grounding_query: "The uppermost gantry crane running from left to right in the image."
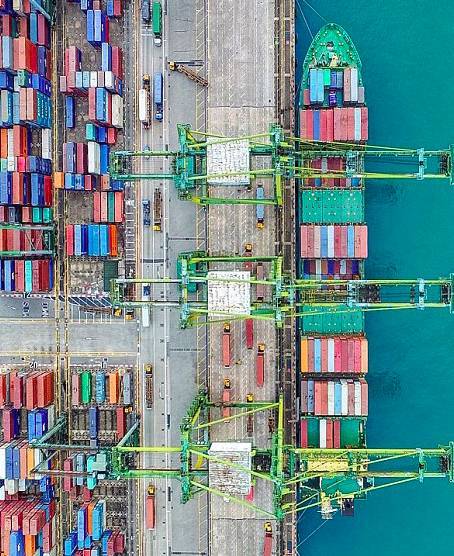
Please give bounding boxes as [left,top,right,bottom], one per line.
[107,121,454,217]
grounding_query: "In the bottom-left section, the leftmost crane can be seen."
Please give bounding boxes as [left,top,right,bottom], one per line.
[28,412,140,477]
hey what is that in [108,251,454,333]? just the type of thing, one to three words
container crane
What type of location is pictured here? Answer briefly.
port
